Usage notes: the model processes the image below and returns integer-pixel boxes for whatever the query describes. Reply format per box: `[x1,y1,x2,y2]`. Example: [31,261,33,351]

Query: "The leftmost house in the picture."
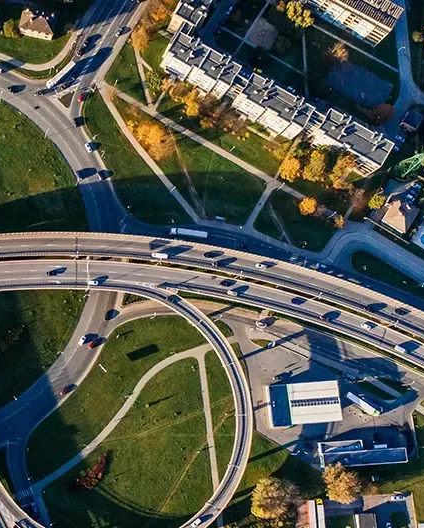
[19,4,61,38]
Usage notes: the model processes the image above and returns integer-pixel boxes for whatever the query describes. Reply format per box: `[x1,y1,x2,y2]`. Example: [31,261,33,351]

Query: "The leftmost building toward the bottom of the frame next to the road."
[264,379,343,429]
